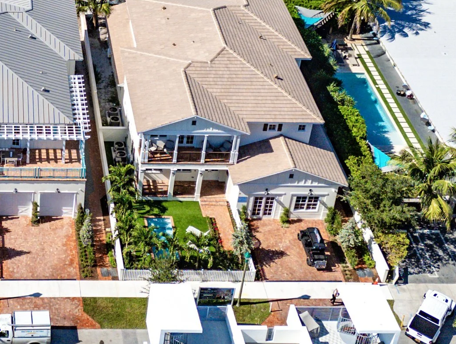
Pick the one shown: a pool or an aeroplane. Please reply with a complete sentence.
This aerial view contains a pool.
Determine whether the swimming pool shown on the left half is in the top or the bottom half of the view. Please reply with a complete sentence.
You can find the swimming pool shown on the left half in the bottom half.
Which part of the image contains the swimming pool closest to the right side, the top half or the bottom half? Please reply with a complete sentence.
The top half of the photo is where the swimming pool closest to the right side is.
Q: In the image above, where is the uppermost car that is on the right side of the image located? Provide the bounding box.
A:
[291,226,338,278]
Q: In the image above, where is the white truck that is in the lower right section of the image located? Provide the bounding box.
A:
[402,294,453,344]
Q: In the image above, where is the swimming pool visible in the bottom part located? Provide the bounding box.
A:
[144,215,182,260]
